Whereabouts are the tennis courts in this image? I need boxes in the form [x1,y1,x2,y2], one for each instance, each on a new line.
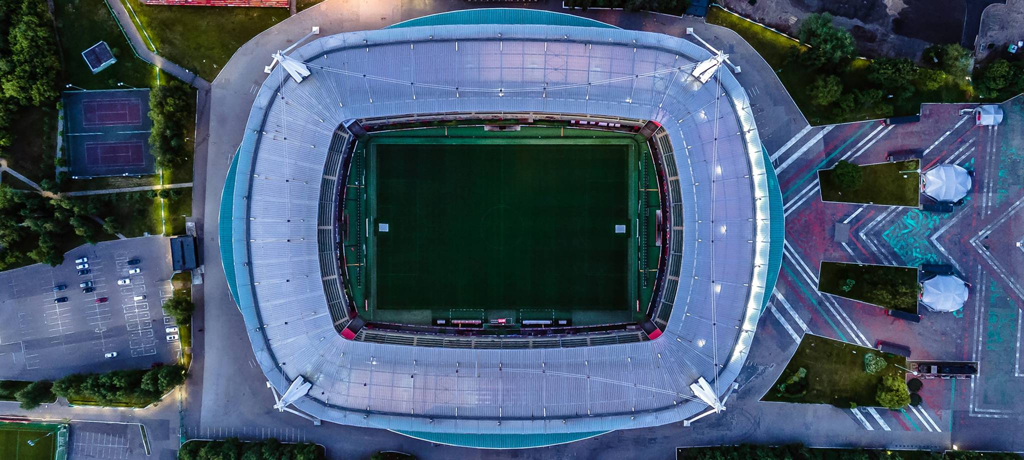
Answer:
[64,89,152,134]
[65,130,159,177]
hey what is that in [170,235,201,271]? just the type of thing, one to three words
building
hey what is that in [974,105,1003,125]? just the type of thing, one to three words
tent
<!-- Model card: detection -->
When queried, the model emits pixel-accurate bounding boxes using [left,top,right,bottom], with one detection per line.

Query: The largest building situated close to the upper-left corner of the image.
[82,41,118,72]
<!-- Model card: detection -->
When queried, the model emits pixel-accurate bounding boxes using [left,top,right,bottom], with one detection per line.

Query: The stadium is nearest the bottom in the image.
[218,7,785,450]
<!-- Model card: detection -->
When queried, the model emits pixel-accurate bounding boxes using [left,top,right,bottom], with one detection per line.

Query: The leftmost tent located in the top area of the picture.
[921,163,972,202]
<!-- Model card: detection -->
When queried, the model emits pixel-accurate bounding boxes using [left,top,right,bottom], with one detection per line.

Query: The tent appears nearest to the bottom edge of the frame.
[920,274,970,312]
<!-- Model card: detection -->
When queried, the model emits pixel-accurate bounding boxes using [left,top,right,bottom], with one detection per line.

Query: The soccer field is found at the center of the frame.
[342,125,663,331]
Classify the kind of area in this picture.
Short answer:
sports ground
